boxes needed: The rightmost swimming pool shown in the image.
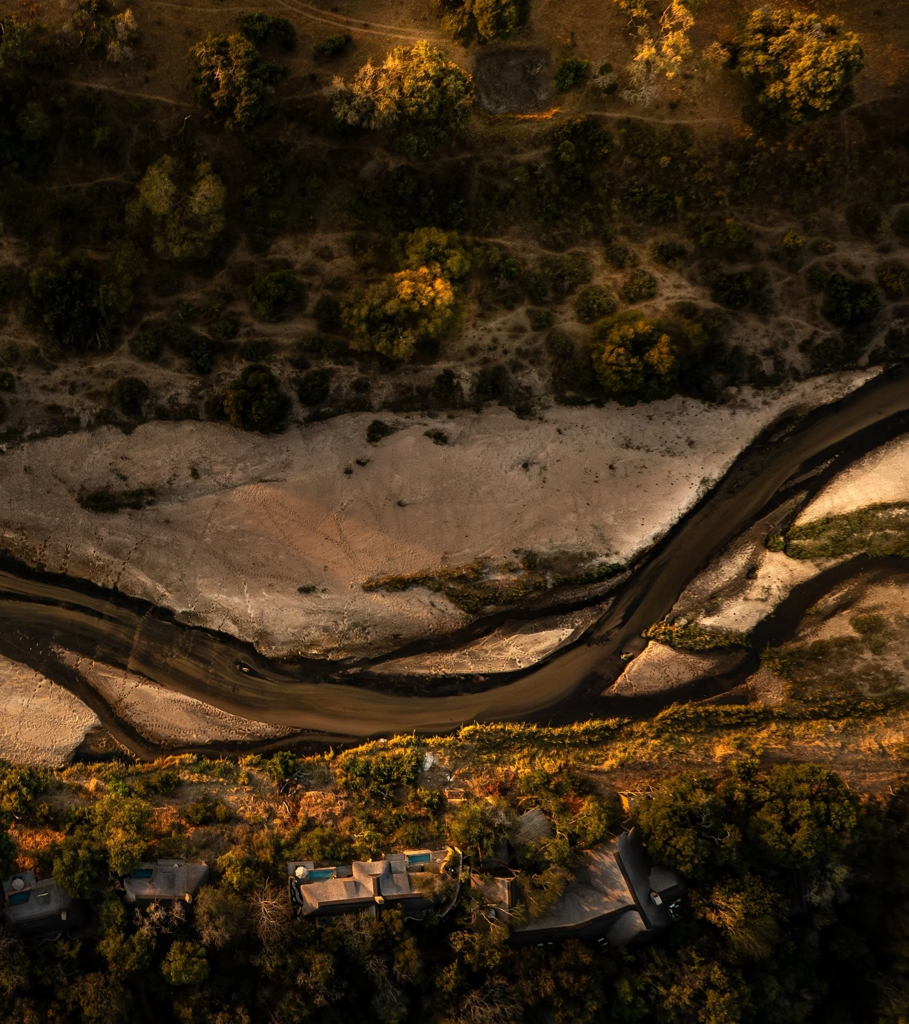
[403,851,435,866]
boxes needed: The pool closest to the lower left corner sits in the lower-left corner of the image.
[6,887,35,905]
